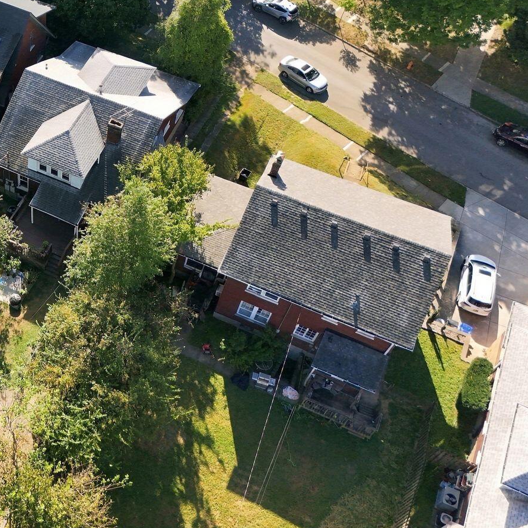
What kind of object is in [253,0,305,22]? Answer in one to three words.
car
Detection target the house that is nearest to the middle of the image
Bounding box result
[177,149,452,409]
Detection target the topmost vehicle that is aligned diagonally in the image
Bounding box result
[279,52,334,93]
